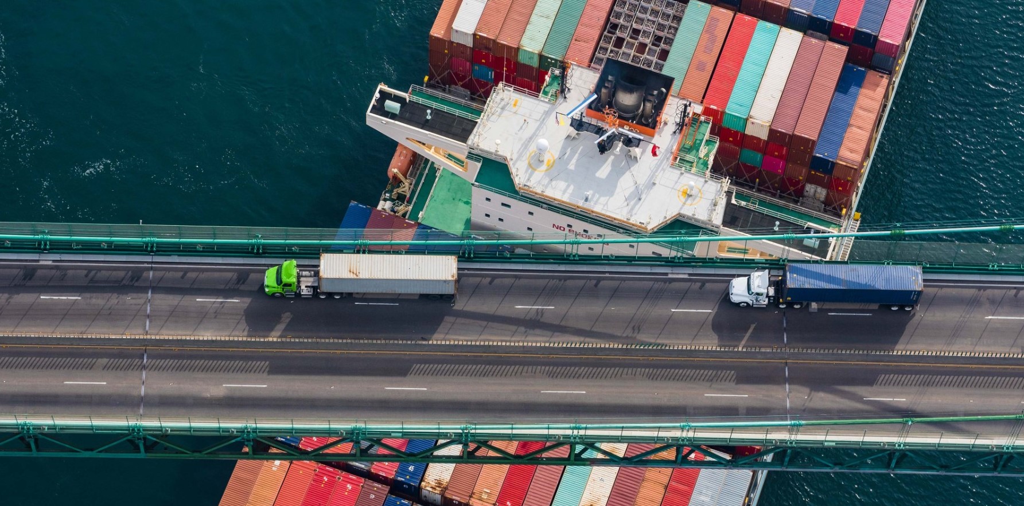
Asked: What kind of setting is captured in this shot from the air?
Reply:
port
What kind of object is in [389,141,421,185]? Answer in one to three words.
boat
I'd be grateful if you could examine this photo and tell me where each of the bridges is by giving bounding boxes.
[0,215,1024,476]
